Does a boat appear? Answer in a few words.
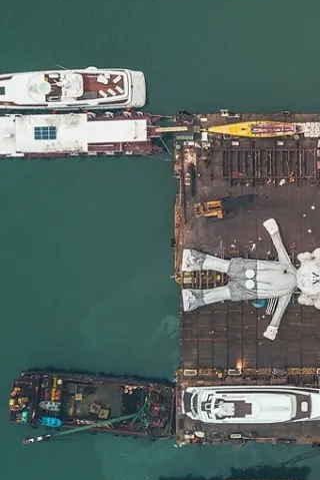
Yes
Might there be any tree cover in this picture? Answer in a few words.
No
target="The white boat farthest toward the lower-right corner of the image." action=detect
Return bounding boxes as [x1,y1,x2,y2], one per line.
[182,385,320,423]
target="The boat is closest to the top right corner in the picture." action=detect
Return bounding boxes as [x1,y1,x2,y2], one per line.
[203,121,305,137]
